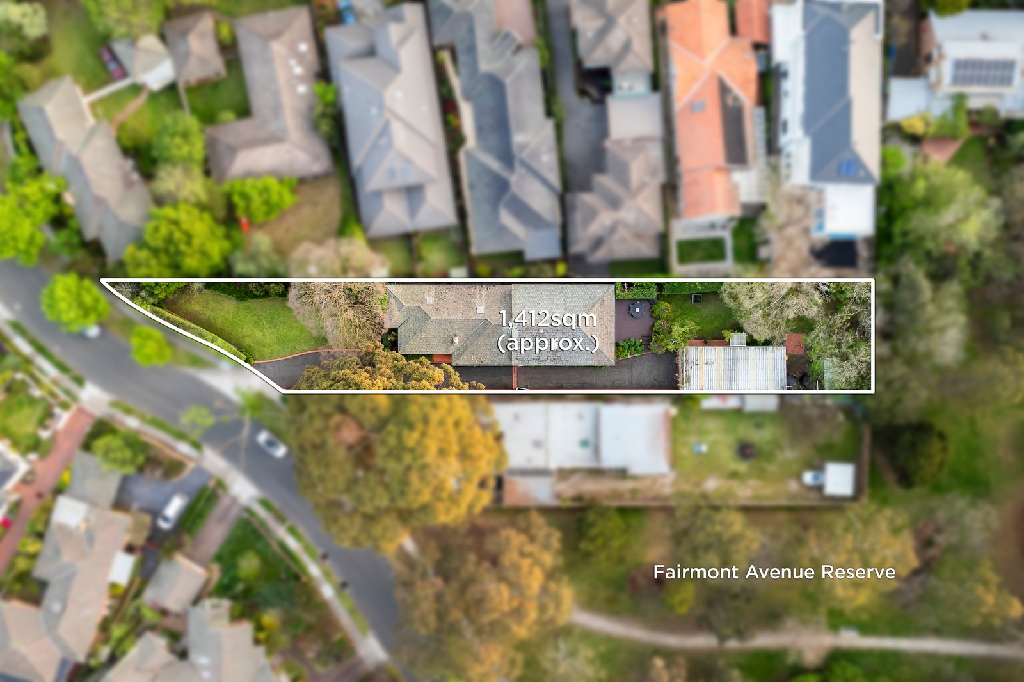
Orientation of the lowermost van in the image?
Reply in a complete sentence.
In this picture, the lowermost van is oriented on a diagonal.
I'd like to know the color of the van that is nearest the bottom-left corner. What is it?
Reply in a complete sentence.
The van that is nearest the bottom-left corner is white.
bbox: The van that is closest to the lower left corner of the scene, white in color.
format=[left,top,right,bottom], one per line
[155,492,188,530]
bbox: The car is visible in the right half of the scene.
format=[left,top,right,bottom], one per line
[799,470,823,486]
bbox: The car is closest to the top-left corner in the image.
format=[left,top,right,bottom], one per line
[101,48,128,82]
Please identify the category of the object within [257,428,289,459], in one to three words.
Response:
car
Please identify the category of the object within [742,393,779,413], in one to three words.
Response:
shed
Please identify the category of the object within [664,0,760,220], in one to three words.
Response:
house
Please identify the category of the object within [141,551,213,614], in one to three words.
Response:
building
